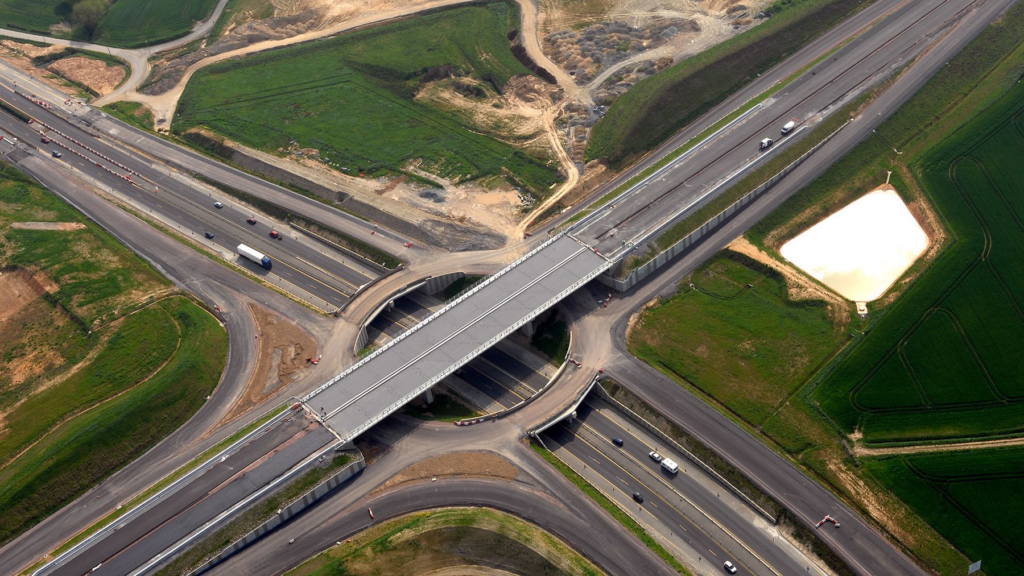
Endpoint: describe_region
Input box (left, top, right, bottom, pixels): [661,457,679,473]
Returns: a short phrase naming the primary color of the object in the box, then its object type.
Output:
white camper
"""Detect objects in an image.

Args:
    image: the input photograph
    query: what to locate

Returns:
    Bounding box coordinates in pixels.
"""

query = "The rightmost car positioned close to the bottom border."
[723,560,737,573]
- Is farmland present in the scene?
Yes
